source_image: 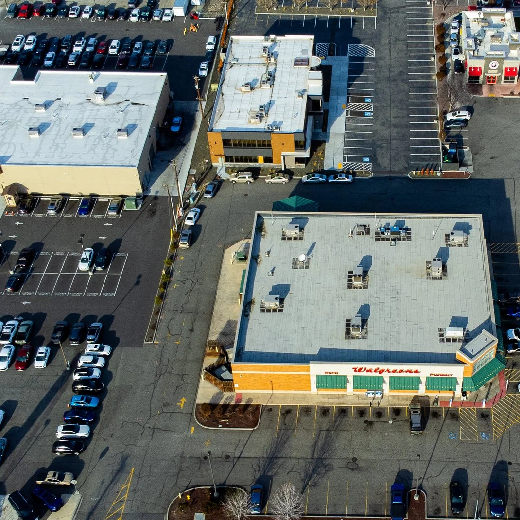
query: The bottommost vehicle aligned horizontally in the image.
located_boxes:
[32,469,78,489]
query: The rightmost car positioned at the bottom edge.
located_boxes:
[488,484,505,516]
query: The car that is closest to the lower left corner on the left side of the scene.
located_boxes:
[11,492,37,520]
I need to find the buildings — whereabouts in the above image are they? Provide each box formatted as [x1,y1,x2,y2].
[461,5,520,84]
[232,190,507,401]
[208,34,328,171]
[0,68,172,198]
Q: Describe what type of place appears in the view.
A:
parking lot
